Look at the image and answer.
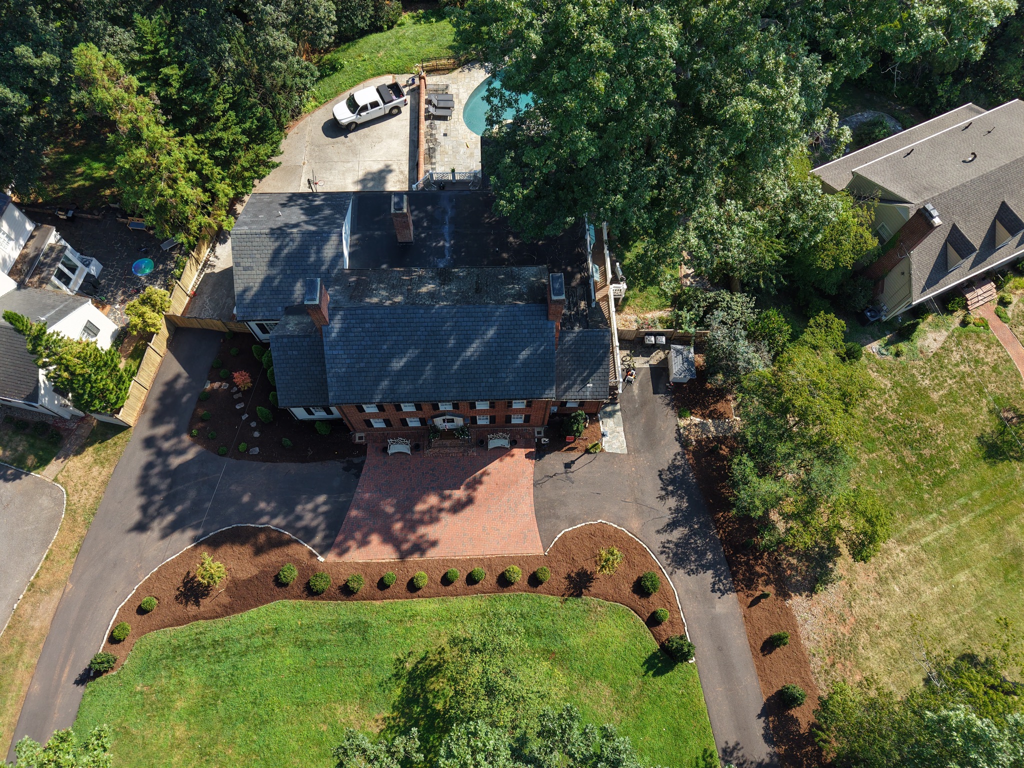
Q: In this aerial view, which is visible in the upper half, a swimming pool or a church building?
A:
swimming pool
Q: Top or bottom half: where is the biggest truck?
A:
top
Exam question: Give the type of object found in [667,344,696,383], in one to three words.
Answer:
shed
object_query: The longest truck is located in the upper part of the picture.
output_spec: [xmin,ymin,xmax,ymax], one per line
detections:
[328,83,410,131]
